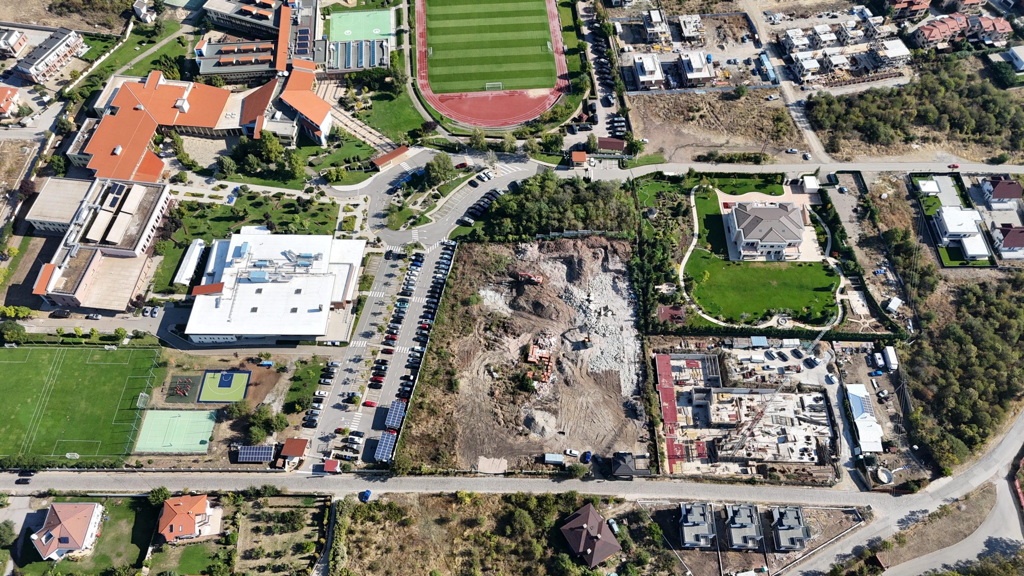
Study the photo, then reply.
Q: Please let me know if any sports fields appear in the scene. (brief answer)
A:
Yes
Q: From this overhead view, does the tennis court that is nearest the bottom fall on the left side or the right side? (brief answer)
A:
left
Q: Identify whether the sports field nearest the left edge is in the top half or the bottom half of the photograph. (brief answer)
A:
bottom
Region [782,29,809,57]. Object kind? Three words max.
house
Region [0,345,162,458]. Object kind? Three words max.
sports field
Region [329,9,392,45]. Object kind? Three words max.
sports court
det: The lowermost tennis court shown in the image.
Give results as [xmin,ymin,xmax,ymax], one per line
[135,410,216,452]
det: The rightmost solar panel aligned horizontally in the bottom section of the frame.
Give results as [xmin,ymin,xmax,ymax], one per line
[239,446,274,462]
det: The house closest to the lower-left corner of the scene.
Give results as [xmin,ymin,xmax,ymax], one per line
[26,503,103,562]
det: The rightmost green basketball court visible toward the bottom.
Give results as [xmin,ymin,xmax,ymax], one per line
[196,370,251,403]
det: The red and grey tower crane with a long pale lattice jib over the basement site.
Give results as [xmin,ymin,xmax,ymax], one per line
[728,314,839,463]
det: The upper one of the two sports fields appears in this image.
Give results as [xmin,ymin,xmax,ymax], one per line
[426,0,559,95]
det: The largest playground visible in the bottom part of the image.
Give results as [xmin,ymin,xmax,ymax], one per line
[165,376,201,403]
